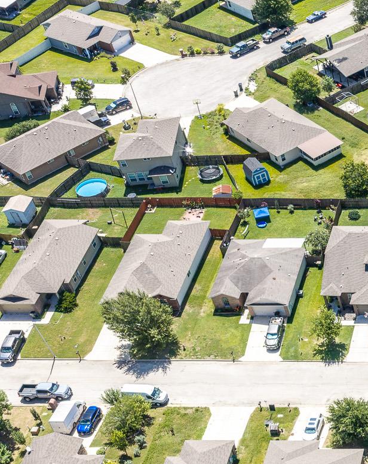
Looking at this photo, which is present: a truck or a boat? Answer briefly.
truck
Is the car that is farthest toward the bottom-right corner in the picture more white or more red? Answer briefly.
white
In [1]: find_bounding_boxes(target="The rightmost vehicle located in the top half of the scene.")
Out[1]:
[305,10,327,23]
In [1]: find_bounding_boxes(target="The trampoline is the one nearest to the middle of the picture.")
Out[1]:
[197,163,220,183]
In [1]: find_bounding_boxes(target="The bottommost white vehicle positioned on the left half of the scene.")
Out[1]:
[47,395,90,433]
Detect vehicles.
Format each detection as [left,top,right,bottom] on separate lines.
[305,10,327,23]
[78,404,99,434]
[93,110,110,124]
[118,383,168,405]
[104,96,131,112]
[262,25,292,41]
[303,410,325,440]
[281,33,308,51]
[20,383,68,401]
[65,75,98,87]
[0,328,23,360]
[264,317,283,348]
[228,39,260,56]
[47,395,90,433]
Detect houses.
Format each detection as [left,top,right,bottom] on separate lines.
[114,109,195,188]
[321,226,368,316]
[14,432,100,464]
[0,0,35,19]
[96,221,210,326]
[264,441,364,464]
[0,111,111,185]
[210,238,307,317]
[227,99,343,169]
[29,10,134,59]
[219,0,268,22]
[0,54,60,106]
[0,220,100,316]
[314,33,368,86]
